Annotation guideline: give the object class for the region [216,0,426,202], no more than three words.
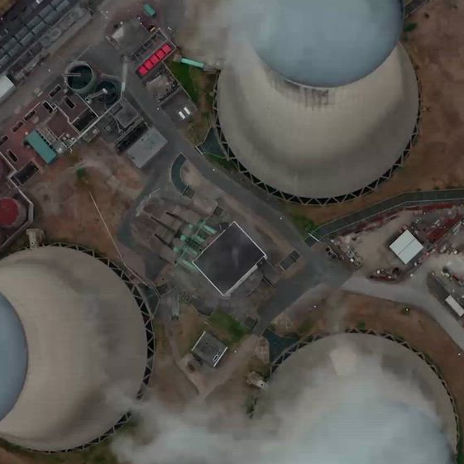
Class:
cooling tower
